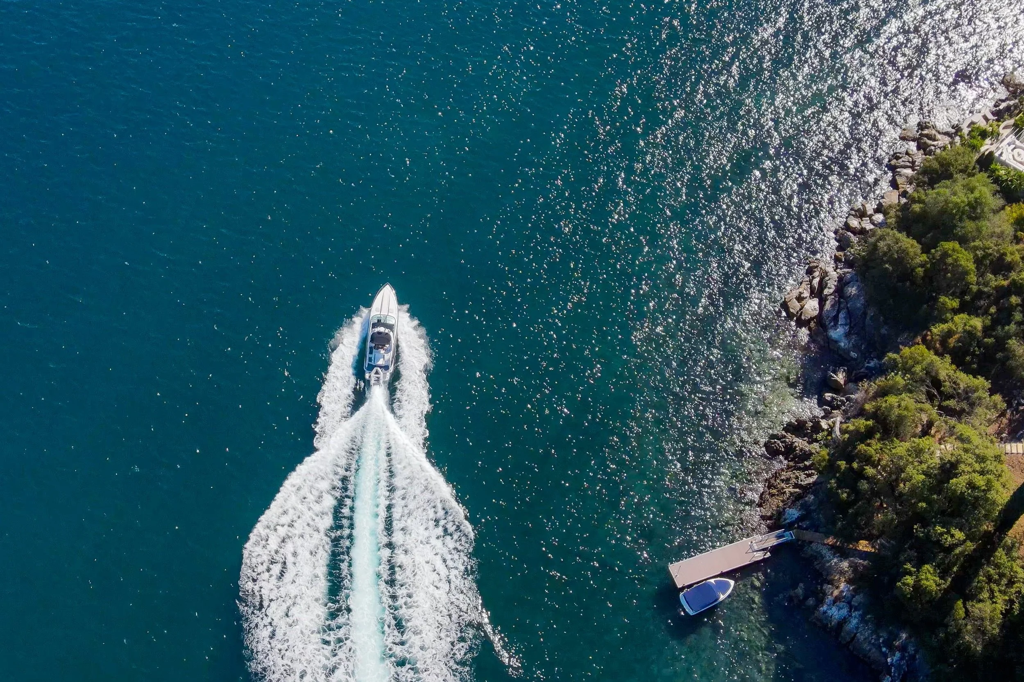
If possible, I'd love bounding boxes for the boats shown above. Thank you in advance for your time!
[680,574,735,617]
[371,366,384,387]
[364,282,398,381]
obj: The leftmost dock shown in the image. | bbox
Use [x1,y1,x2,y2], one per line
[668,535,770,588]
